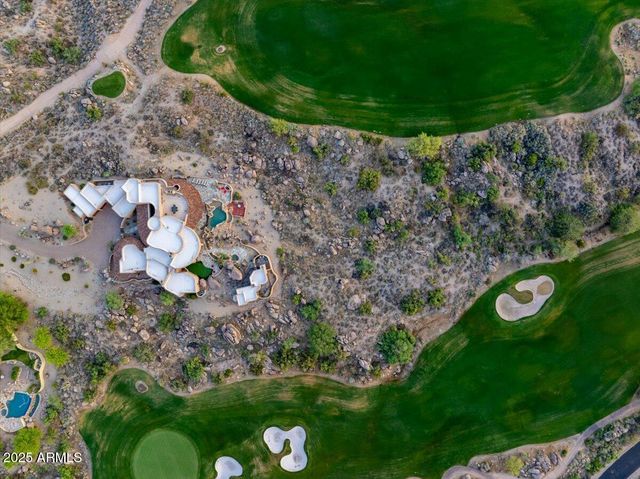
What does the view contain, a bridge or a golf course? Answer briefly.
golf course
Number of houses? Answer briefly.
2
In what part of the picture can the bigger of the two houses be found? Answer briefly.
left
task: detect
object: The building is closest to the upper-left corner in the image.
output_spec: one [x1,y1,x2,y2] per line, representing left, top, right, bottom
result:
[64,178,206,297]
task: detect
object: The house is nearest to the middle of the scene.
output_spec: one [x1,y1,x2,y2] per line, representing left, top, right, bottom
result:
[233,265,269,305]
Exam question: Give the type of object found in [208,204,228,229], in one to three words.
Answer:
swimming pool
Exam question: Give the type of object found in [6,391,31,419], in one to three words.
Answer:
swimming pool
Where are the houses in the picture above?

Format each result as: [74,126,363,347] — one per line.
[64,178,206,297]
[233,265,269,305]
